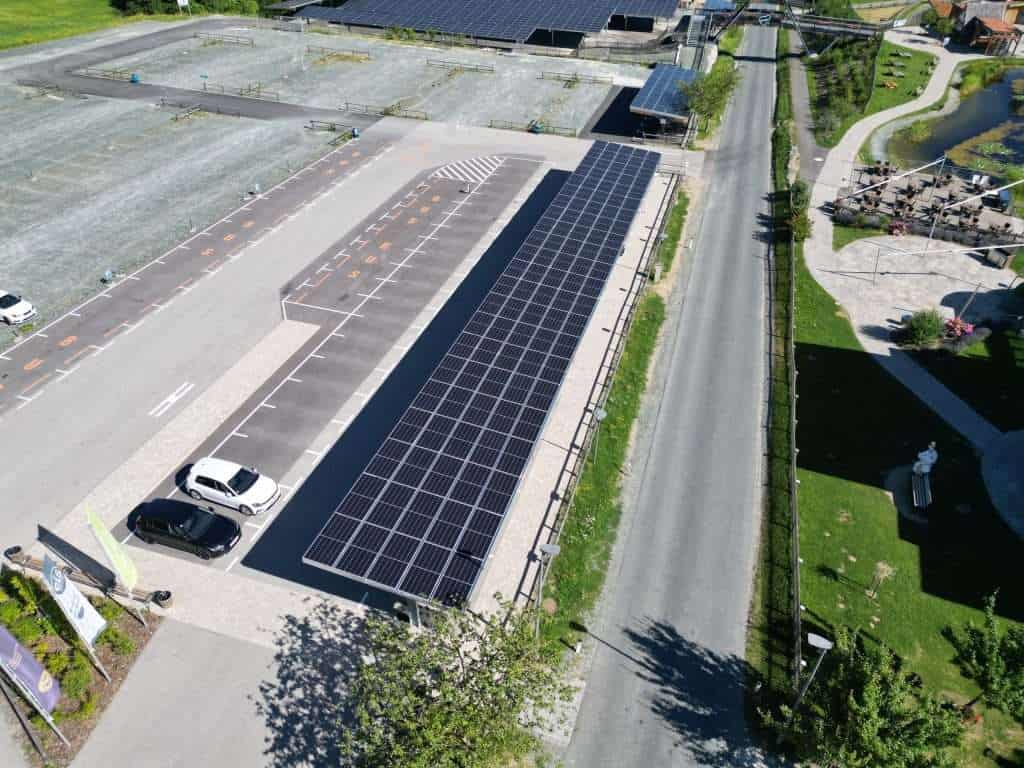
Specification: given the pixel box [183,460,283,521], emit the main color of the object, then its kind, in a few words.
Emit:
white car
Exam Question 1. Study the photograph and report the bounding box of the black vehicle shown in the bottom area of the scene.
[122,496,238,564]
